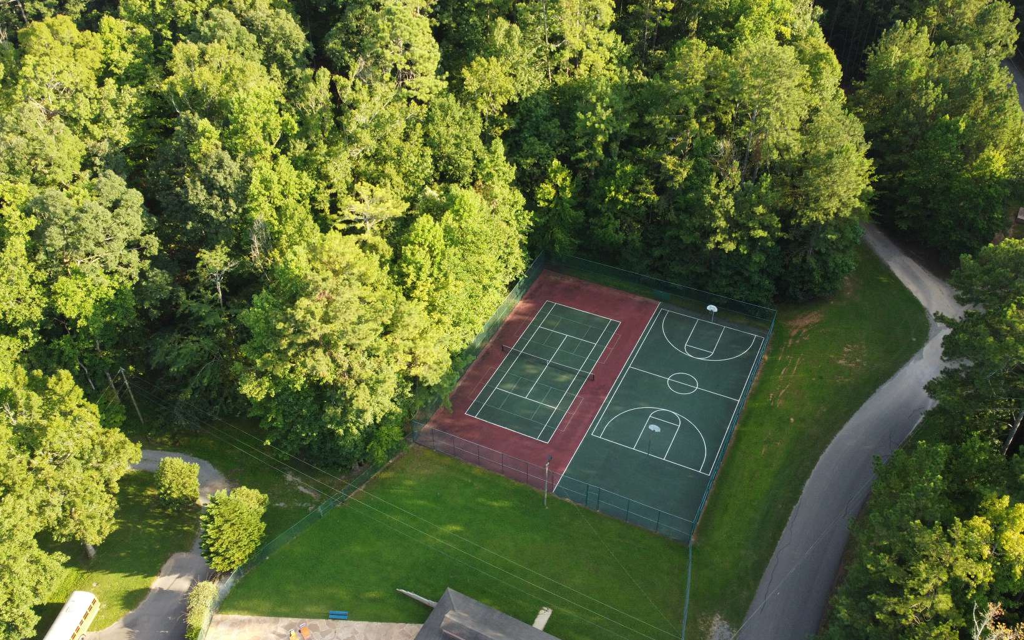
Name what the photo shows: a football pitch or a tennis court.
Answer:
tennis court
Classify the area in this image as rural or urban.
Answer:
rural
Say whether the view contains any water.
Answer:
No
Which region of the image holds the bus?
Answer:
bottom left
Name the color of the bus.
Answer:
white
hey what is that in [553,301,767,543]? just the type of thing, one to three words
basketball court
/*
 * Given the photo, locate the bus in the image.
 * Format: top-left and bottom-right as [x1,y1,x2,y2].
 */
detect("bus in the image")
[45,594,104,640]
